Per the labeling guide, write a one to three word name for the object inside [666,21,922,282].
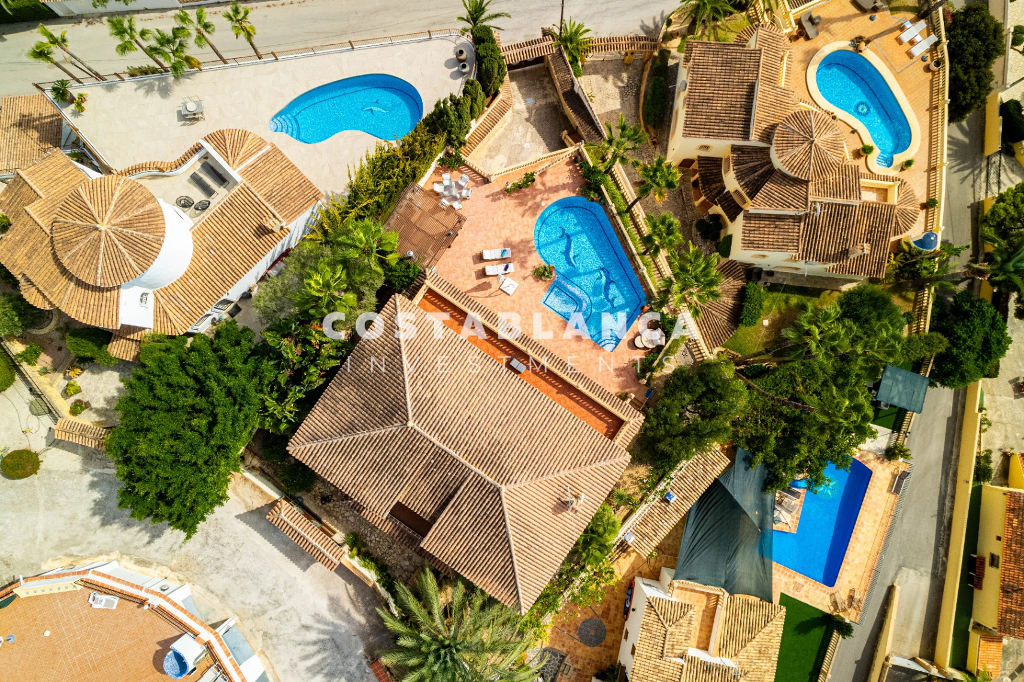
house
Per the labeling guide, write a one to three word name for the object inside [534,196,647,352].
swimming pool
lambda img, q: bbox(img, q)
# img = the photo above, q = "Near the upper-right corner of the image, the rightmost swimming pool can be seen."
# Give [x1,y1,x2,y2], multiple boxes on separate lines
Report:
[807,40,920,173]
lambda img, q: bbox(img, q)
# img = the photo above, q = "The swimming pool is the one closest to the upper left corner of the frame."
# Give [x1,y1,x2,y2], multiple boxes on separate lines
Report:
[270,74,423,143]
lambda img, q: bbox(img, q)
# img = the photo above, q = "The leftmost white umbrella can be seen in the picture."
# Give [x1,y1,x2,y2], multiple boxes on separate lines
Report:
[496,276,520,296]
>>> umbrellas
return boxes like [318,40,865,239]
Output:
[496,276,520,296]
[775,509,790,527]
